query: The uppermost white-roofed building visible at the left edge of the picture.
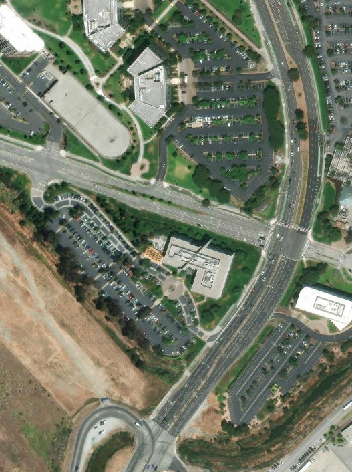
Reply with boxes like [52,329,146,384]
[0,2,44,62]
